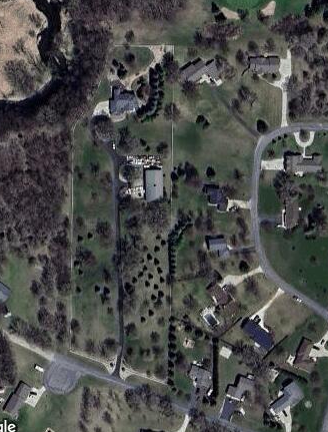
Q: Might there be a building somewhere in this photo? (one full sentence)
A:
Yes, I can see a building in this picture.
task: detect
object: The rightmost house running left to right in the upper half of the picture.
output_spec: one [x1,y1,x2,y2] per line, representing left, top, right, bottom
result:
[287,156,322,173]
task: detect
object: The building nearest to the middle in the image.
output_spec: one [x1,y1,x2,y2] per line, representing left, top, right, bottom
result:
[145,169,163,201]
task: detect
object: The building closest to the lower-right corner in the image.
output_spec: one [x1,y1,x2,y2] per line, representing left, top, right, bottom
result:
[270,381,306,413]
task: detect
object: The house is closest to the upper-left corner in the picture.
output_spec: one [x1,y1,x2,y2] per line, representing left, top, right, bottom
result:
[108,86,139,114]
